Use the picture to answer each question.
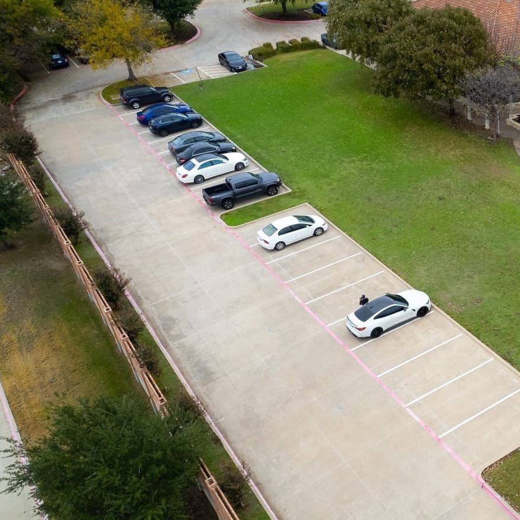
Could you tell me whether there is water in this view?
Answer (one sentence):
No, there's no water in this view.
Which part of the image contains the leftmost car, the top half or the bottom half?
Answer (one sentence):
The leftmost car is in the top half of the image.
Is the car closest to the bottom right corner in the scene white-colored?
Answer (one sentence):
Yes, white is the color of the car closest to the bottom right corner.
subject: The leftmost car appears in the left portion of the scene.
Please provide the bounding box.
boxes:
[42,49,73,69]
